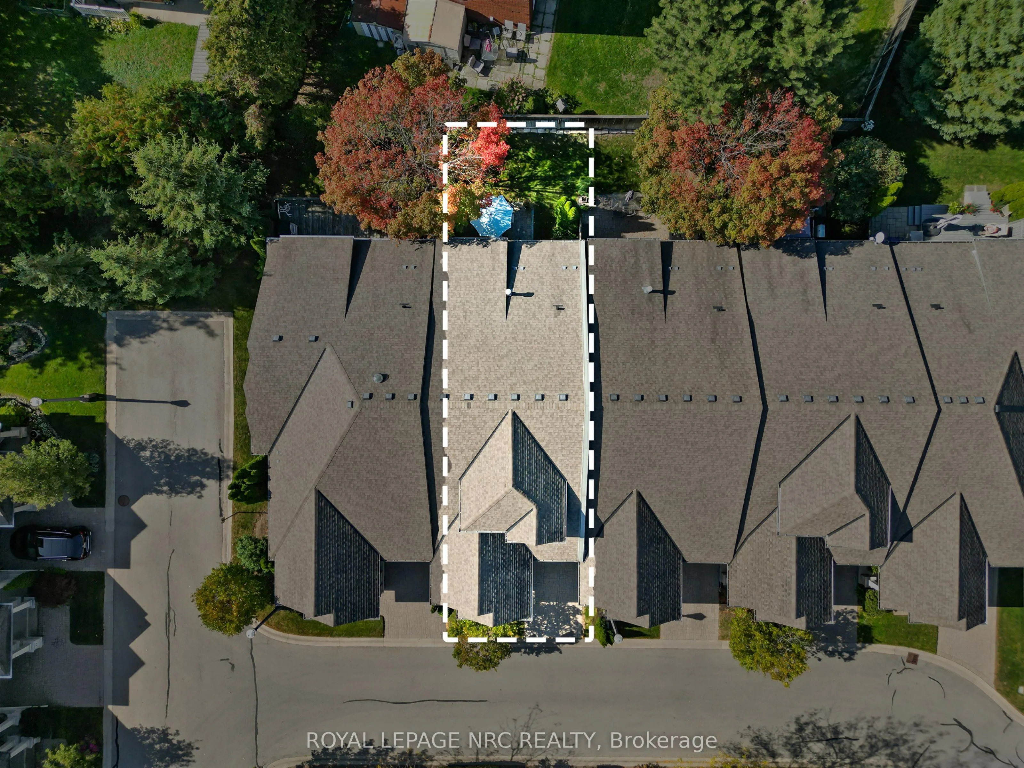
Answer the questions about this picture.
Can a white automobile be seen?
No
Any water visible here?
No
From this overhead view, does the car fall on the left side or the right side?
left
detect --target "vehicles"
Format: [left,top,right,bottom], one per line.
[10,522,96,564]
